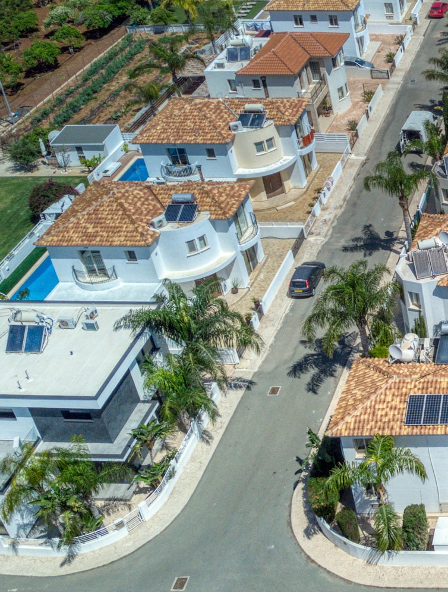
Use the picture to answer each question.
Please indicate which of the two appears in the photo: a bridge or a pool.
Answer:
pool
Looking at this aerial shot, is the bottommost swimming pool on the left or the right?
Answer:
left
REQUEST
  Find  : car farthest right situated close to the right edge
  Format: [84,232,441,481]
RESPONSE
[431,1,448,16]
